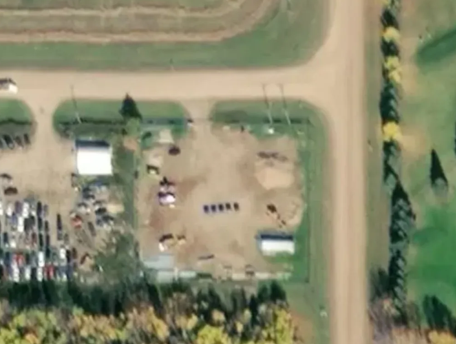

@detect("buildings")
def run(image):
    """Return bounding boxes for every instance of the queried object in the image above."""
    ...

[261,240,295,257]
[77,144,113,181]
